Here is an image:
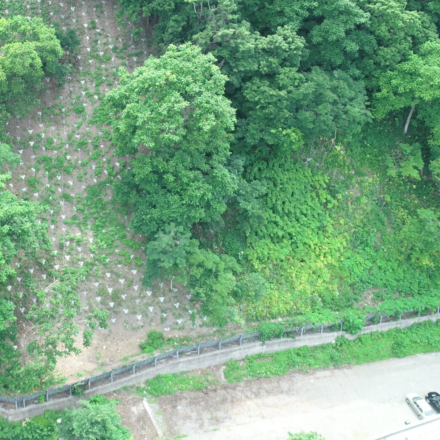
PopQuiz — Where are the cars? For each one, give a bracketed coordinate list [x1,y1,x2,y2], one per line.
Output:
[405,391,437,422]
[426,391,440,412]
